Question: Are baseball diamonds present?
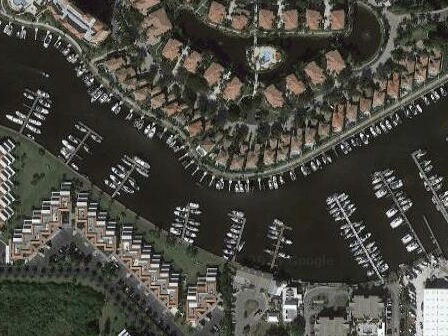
No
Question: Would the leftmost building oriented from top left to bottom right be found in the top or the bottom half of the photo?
top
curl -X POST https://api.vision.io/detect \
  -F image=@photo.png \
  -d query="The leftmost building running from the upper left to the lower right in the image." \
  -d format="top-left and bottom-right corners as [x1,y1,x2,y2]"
[47,0,106,48]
